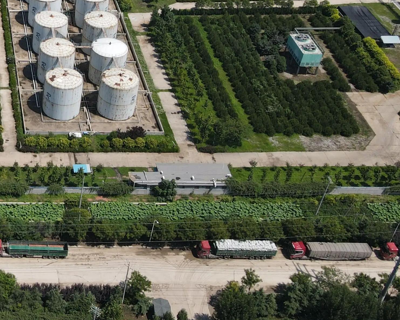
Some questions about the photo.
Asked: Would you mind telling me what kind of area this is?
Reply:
industrial area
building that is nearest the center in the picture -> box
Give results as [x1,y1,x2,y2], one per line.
[125,163,237,190]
